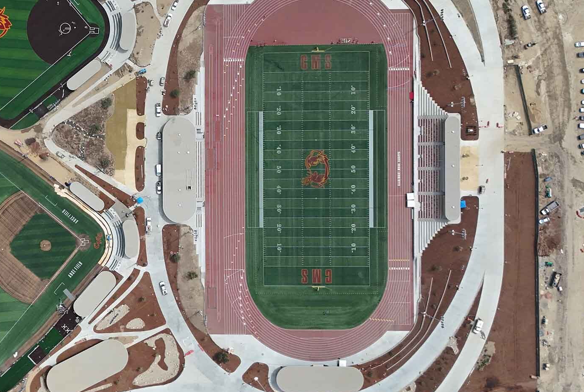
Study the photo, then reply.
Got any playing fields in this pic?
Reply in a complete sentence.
Yes, a playing field appears in the view.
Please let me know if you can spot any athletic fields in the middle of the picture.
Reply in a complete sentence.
Yes, there is an athletic field in the middle of the picture.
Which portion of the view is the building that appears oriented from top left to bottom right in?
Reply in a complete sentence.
The building that appears oriented from top left to bottom right sits in the left section of the image.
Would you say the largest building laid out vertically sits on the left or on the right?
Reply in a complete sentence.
The largest building laid out vertically is on the left side of the image.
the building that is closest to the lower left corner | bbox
[45,340,129,392]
